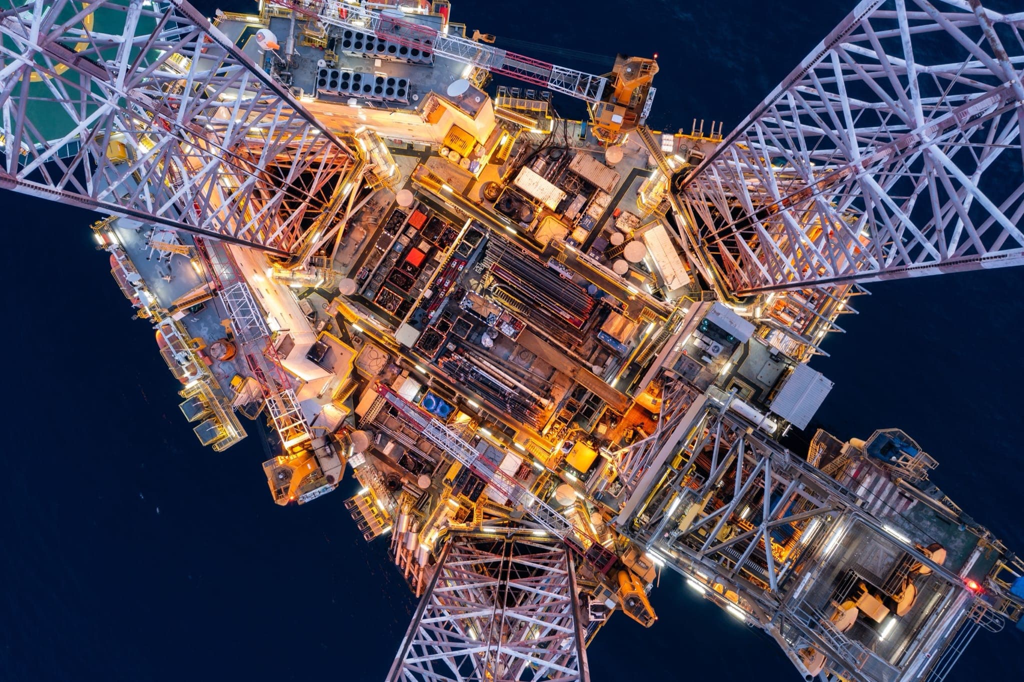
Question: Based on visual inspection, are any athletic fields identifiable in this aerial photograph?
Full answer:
No, the picture doesn't show any athletic field.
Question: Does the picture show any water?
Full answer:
Yes, there is water in the image.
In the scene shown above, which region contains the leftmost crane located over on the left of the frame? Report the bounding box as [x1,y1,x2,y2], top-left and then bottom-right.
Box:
[146,80,351,509]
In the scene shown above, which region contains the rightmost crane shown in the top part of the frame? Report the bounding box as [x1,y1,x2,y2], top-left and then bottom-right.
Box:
[266,0,662,140]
